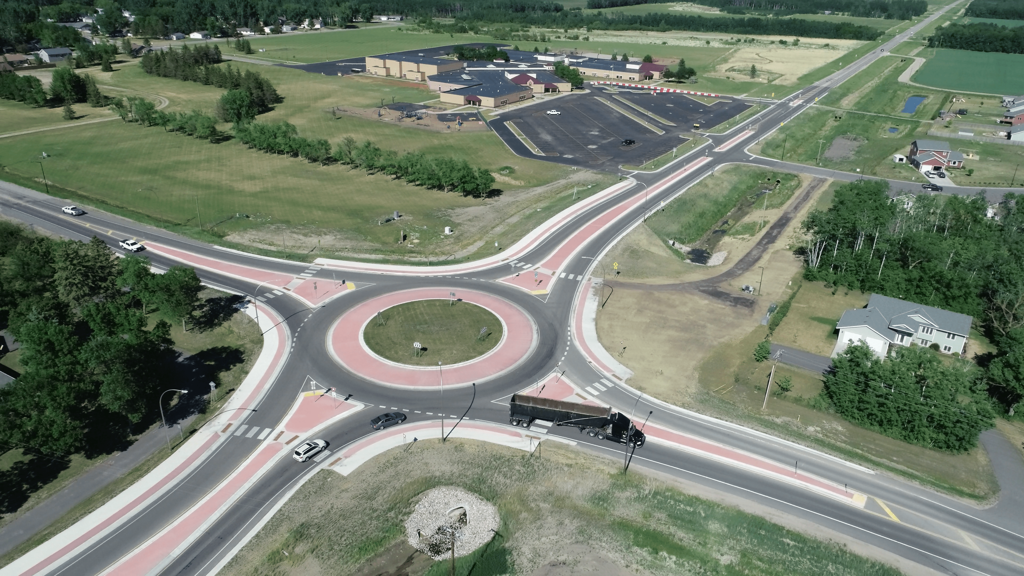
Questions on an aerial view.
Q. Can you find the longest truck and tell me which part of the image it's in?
bottom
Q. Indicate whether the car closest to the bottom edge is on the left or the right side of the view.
left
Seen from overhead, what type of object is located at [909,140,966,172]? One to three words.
house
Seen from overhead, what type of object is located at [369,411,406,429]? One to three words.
car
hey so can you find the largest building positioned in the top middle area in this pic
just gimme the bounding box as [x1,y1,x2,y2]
[366,50,665,109]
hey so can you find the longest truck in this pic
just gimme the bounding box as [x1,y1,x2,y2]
[506,397,645,447]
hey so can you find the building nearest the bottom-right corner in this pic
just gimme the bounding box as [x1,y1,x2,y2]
[836,293,973,355]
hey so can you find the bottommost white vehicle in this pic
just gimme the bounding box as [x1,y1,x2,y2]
[292,438,328,462]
